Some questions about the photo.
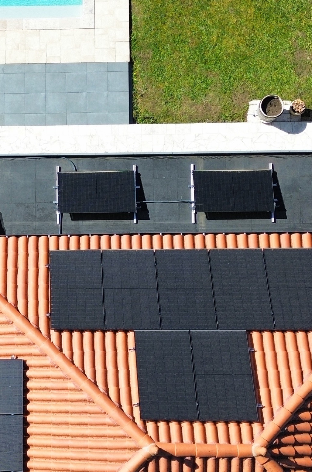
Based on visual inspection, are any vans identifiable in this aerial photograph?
No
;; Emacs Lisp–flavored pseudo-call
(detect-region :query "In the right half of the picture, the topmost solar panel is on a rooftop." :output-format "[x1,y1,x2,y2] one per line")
[189,164,278,223]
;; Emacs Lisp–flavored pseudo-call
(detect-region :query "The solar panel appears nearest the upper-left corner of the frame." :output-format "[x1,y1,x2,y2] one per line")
[55,165,140,223]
